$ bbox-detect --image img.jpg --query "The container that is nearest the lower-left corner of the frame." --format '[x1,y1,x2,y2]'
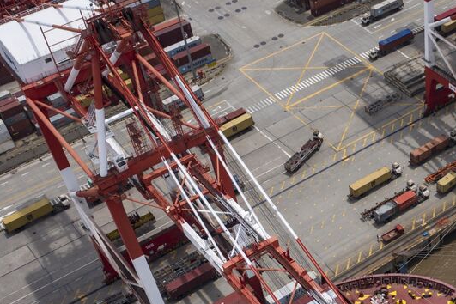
[0,196,52,231]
